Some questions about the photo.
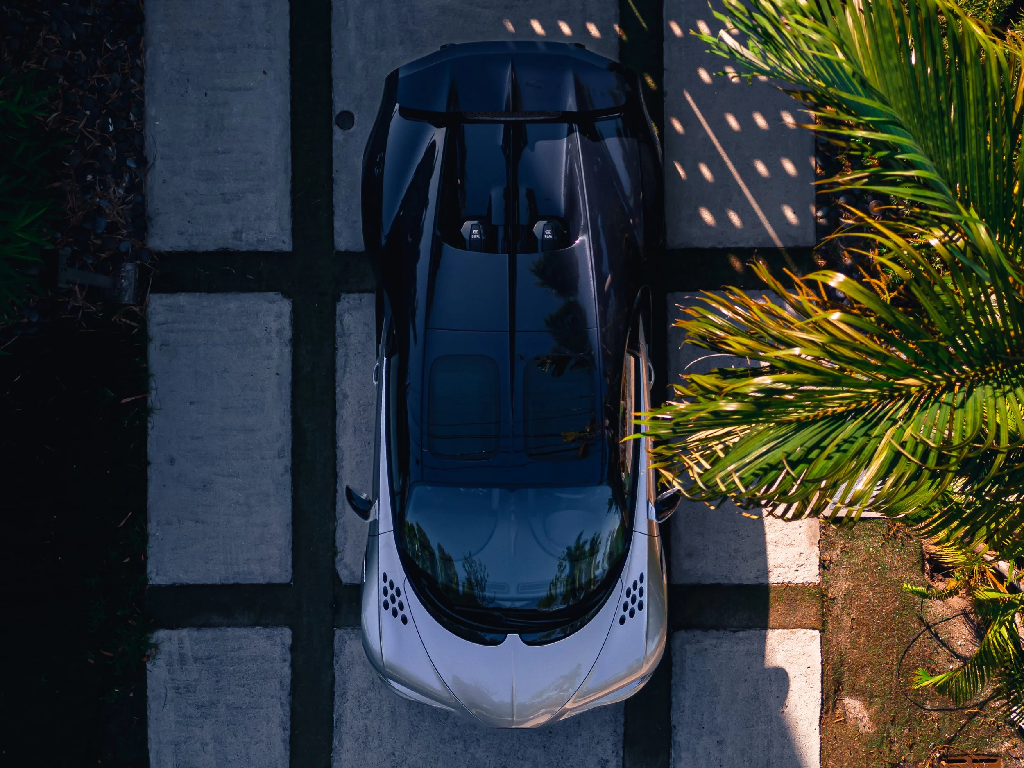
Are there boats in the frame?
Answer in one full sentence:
No, no boat is visible in the scene.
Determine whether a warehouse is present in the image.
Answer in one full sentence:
No, no warehouse can be seen from above.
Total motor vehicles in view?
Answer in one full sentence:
There is 1 motor vehicle in the image.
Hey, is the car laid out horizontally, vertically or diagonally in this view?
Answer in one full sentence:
The car is oriented vertically.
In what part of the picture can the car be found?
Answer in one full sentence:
The car is located in the center region of the scene.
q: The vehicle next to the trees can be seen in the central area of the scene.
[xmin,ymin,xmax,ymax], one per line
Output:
[345,37,681,729]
